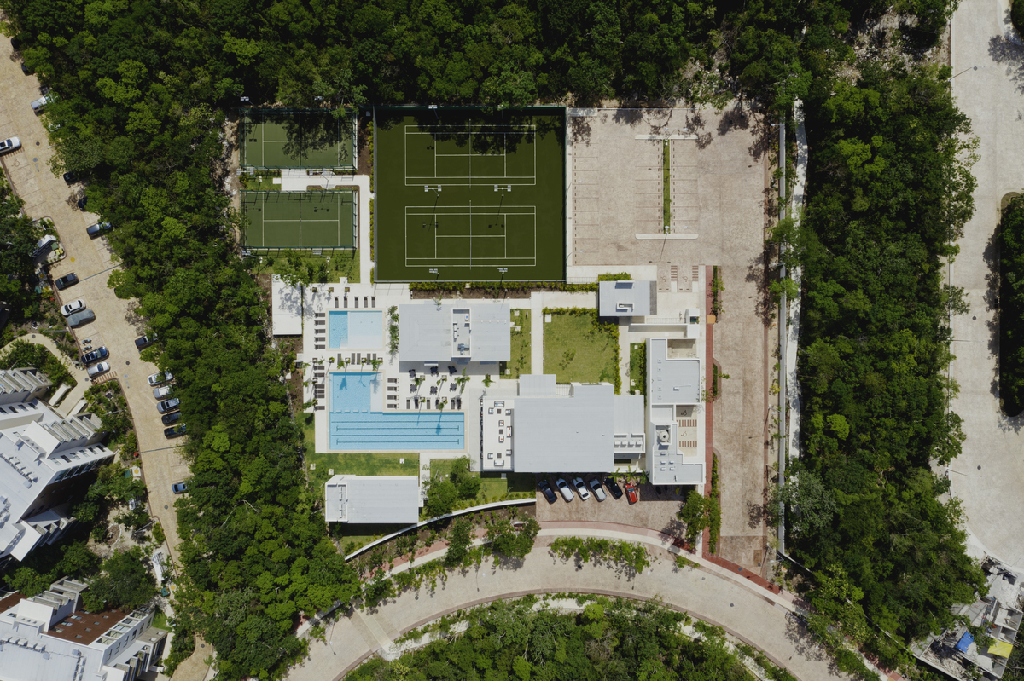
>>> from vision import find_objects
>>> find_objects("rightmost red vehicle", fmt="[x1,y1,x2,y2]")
[625,484,638,505]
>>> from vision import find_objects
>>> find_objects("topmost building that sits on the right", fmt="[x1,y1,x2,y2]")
[599,281,657,316]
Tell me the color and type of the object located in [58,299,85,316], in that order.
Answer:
white car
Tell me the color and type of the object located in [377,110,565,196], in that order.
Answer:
green tennis court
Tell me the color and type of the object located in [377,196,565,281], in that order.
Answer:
green tennis court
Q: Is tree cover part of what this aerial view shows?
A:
Yes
